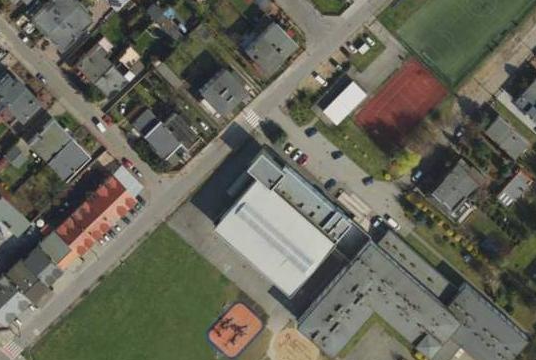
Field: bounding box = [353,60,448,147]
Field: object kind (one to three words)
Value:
tennis court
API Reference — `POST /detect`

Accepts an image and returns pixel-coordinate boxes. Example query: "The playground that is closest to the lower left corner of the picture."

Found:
[207,302,263,358]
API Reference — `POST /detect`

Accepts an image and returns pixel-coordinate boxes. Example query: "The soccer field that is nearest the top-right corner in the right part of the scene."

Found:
[392,0,536,90]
